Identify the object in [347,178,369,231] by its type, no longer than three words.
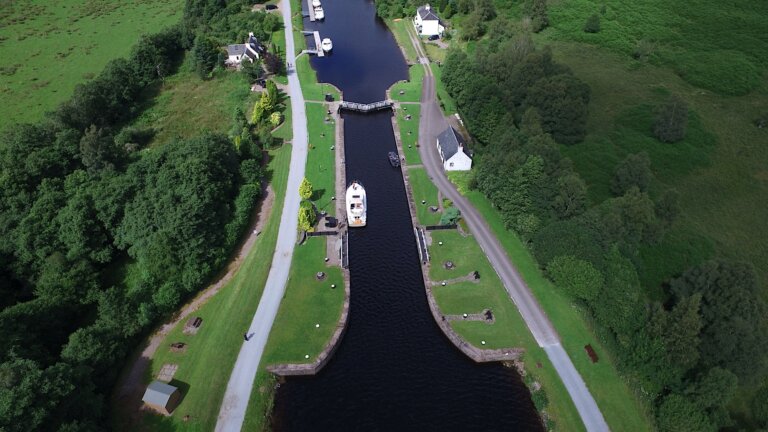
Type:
boat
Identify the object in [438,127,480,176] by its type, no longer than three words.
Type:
house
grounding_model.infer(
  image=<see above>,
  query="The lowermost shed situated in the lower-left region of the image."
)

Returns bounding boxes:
[139,378,184,415]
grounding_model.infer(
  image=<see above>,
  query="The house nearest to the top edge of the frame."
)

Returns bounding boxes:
[416,0,448,35]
